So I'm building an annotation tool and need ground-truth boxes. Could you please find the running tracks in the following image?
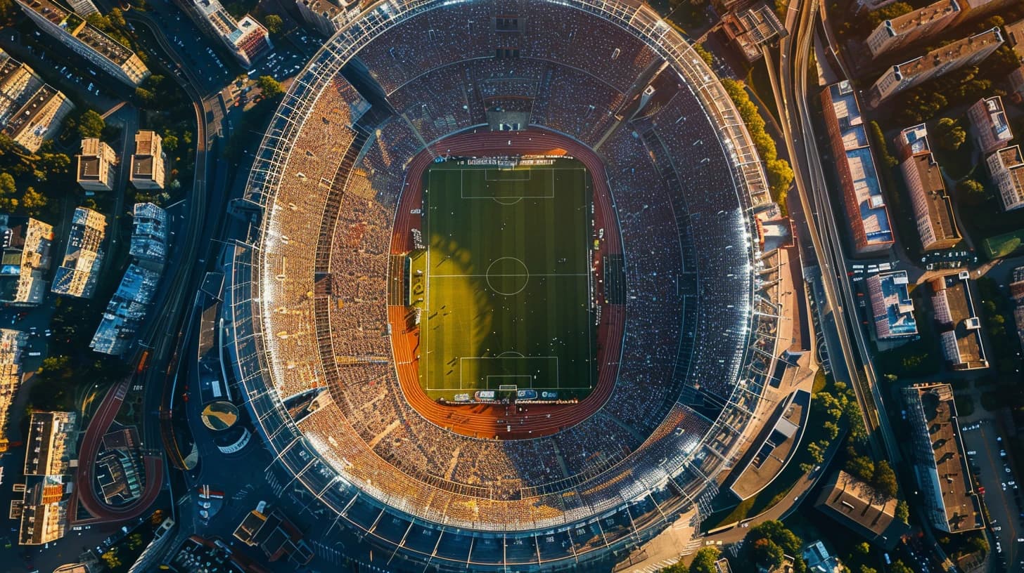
[389,132,626,439]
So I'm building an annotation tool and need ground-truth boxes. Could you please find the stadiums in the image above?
[226,0,786,573]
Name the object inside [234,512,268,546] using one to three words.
house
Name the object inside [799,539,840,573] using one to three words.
house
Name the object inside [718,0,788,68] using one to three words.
building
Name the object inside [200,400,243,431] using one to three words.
building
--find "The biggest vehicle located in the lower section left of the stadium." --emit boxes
[137,351,151,374]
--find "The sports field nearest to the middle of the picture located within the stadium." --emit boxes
[426,167,591,390]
